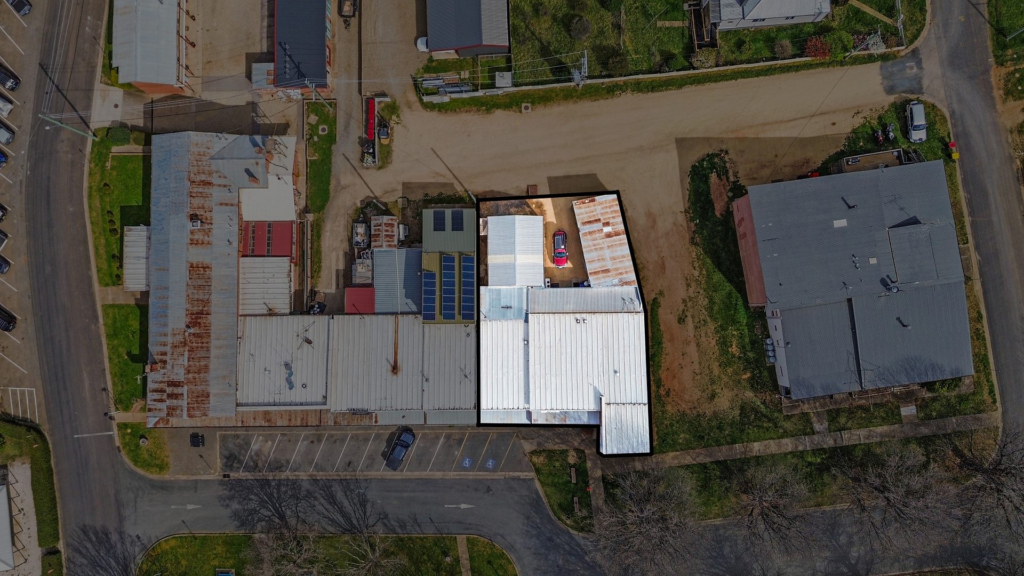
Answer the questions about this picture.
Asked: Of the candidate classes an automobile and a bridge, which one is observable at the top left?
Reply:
automobile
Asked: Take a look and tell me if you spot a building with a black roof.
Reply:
Yes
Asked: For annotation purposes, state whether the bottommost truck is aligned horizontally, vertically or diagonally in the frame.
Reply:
diagonally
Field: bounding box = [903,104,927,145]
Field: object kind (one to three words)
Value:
car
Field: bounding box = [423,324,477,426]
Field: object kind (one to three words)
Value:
building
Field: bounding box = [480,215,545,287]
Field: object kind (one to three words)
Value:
shed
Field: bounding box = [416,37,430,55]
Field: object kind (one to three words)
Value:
car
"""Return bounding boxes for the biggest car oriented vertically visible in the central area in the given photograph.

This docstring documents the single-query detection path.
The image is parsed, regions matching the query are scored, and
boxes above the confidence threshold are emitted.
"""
[551,229,570,270]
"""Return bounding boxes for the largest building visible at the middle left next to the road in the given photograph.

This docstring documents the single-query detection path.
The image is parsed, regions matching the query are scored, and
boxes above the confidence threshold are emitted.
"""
[146,132,304,427]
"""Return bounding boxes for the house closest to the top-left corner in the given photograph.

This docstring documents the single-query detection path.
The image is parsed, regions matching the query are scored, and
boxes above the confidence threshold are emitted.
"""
[111,0,195,94]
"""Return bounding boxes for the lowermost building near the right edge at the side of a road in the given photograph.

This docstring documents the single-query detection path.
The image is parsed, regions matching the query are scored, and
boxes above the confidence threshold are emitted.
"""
[721,159,975,401]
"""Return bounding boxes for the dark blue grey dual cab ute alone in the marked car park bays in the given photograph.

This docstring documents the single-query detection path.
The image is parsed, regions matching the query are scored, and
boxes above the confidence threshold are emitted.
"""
[382,427,418,471]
